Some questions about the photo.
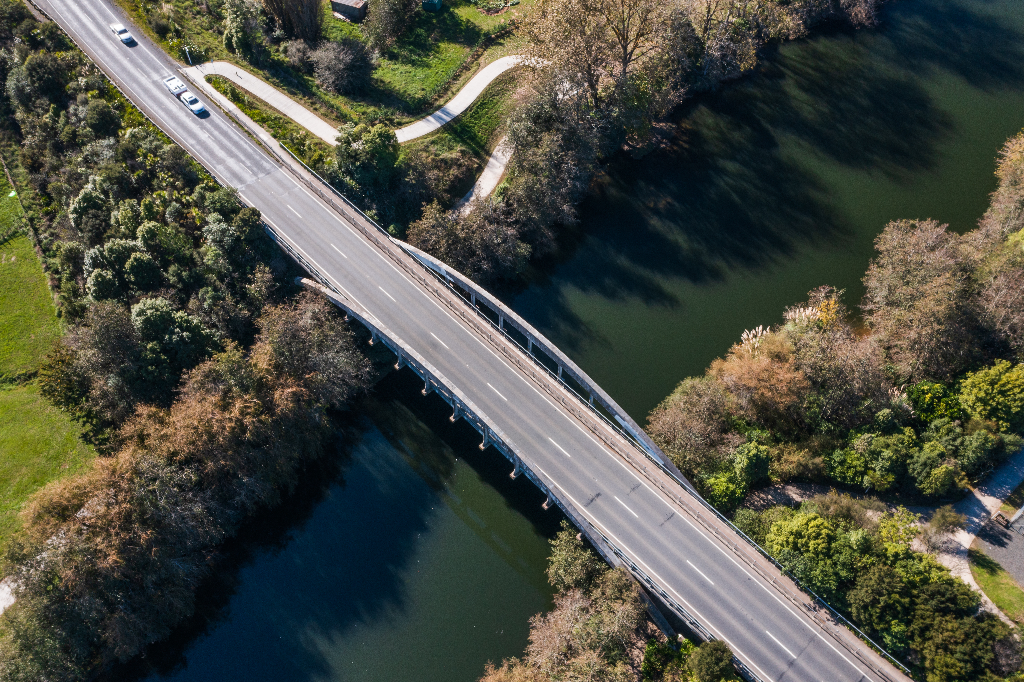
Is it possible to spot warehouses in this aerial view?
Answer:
No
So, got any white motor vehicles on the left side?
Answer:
Yes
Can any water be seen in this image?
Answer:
Yes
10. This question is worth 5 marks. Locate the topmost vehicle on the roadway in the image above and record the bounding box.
[107,22,133,45]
